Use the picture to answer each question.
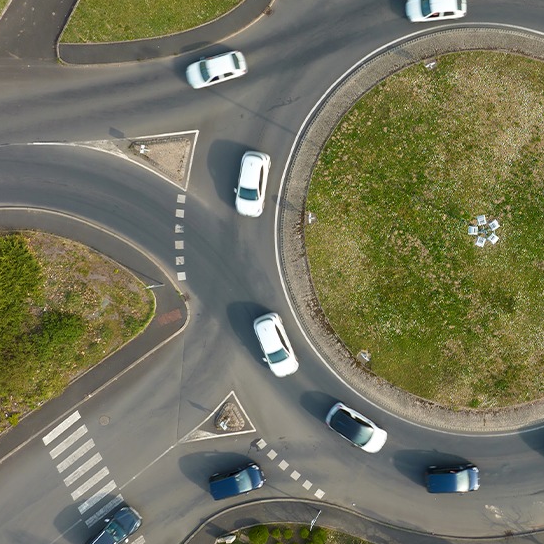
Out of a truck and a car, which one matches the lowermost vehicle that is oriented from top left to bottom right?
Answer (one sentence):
Looking closely, the lowermost vehicle that is oriented from top left to bottom right is a car.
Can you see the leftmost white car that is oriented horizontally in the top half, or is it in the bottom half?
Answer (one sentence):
You can find the leftmost white car that is oriented horizontally in the top half.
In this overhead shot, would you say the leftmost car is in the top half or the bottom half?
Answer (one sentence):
You can find the leftmost car in the bottom half.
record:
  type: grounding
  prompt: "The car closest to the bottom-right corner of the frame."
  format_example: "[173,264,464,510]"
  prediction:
[424,463,481,495]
